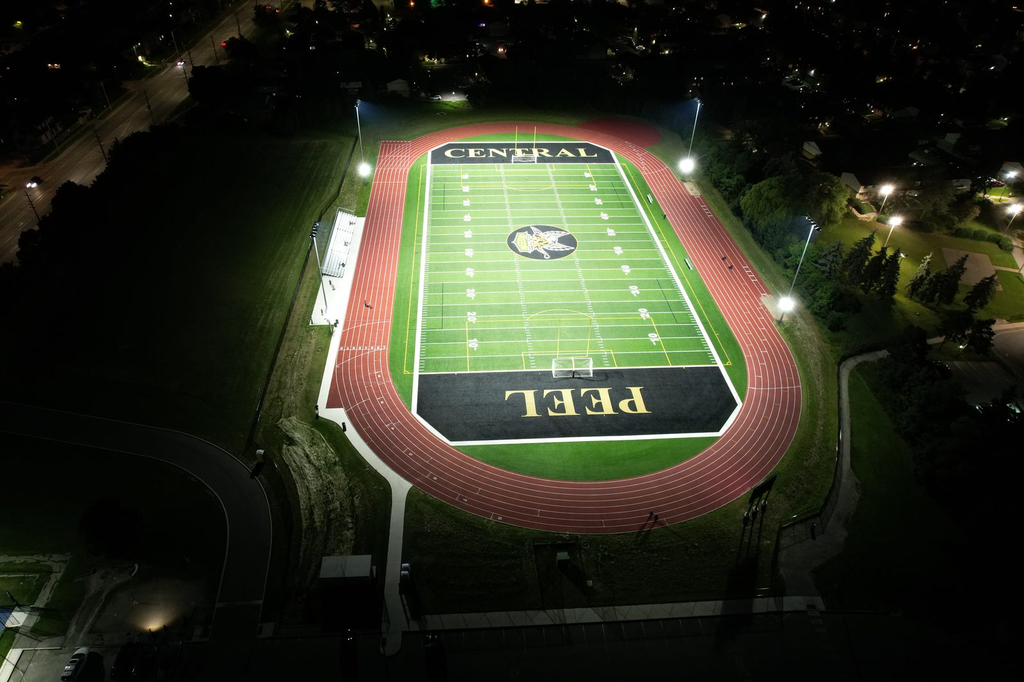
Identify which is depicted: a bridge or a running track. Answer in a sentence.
There is a running track in the scene.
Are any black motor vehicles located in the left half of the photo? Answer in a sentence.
Yes, looking in the left half of the photo, one can make out a black motor vehicle.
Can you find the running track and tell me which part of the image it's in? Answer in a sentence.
The running track appears toward the center of the photo.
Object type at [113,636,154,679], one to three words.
car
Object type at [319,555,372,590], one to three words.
shed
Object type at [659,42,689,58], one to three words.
house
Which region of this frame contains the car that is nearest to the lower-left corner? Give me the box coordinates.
[50,642,96,682]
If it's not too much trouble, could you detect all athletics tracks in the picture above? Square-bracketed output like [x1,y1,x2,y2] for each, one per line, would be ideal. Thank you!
[335,122,806,539]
